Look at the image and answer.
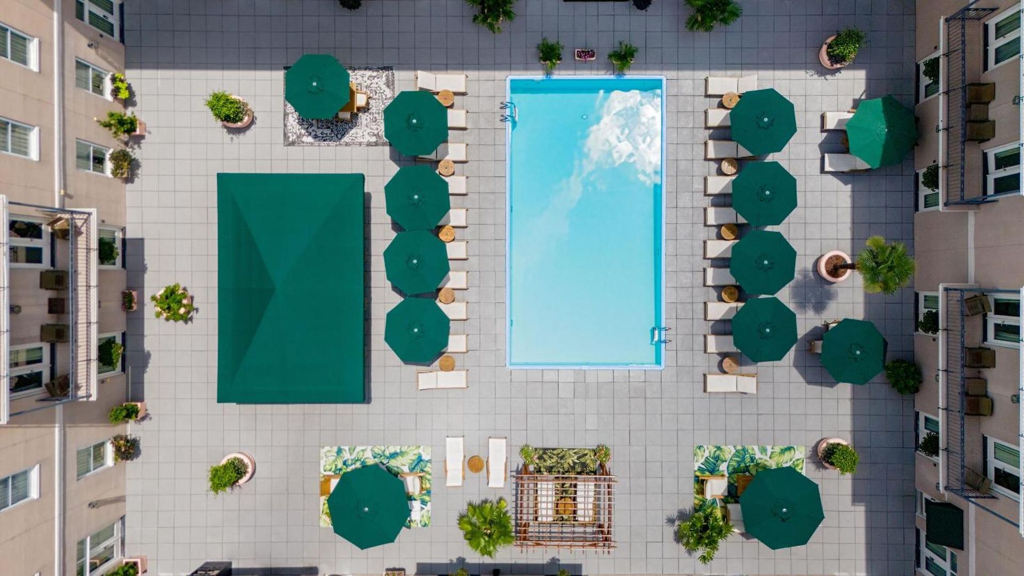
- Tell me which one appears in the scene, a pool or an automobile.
pool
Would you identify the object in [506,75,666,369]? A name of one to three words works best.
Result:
swimming pool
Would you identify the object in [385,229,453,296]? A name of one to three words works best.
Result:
umbrella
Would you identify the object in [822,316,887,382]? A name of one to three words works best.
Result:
umbrella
